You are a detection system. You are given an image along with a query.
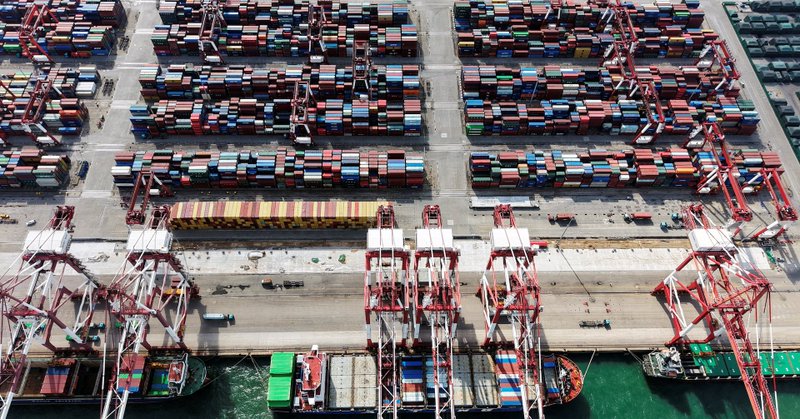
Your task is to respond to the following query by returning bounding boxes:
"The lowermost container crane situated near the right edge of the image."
[650,206,791,419]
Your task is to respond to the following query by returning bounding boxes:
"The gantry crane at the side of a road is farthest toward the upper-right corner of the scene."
[689,40,745,105]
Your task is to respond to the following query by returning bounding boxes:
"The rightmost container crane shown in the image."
[734,167,800,243]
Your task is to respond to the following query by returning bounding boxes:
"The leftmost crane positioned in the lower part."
[0,207,103,391]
